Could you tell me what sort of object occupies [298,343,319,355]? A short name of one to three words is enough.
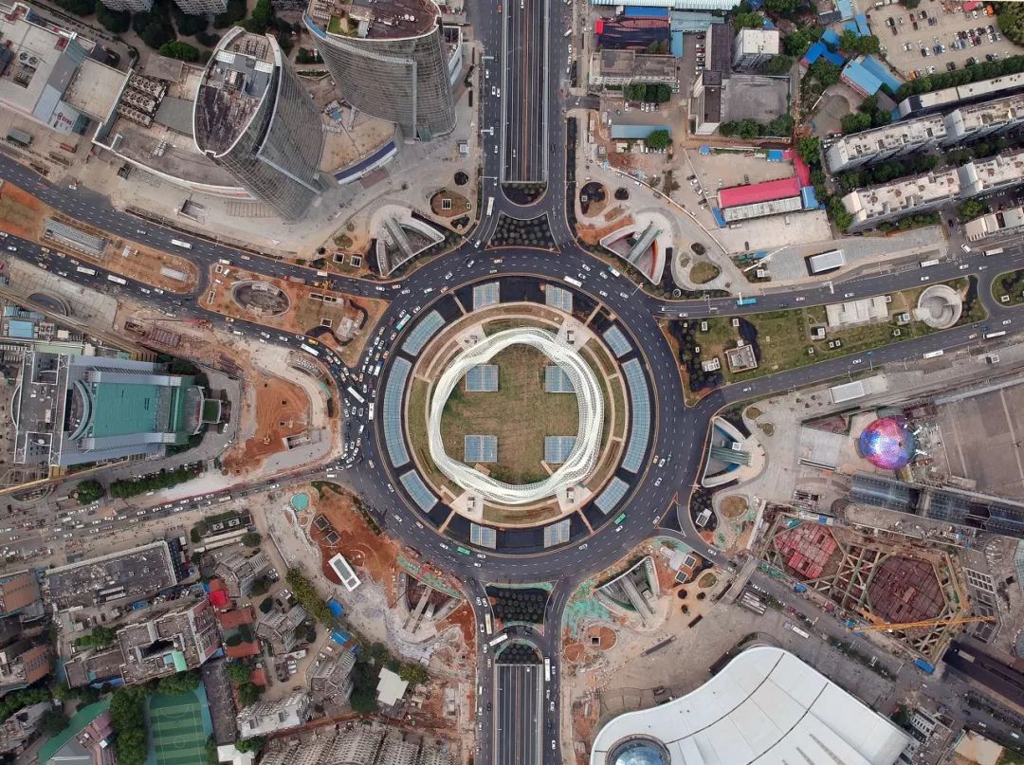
vehicle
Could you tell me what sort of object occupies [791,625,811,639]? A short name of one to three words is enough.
vehicle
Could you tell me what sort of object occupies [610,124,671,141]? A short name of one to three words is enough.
shed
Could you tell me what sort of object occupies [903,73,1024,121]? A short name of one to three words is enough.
building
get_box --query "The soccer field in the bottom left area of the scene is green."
[145,685,215,765]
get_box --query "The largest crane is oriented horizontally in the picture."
[841,609,995,635]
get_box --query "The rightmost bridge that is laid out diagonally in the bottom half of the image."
[722,557,759,603]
